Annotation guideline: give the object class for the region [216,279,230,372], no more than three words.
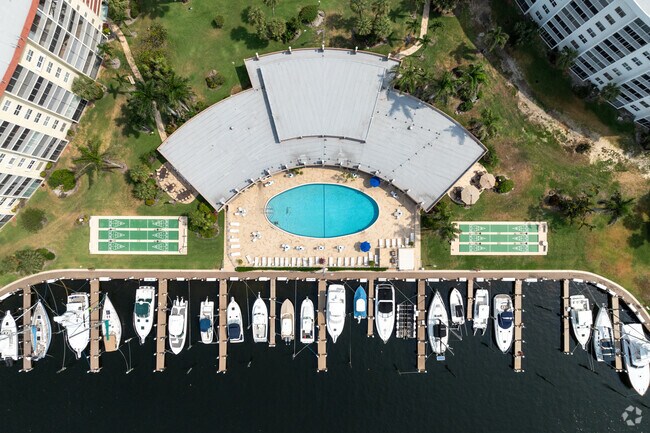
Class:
pier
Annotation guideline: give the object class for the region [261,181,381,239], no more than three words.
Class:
swimming pool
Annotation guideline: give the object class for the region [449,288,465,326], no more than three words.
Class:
boat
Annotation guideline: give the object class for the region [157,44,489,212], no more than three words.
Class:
building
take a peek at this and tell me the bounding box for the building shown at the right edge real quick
[515,0,650,130]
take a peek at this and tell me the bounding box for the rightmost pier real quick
[608,295,627,371]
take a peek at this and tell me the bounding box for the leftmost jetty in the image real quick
[17,284,37,371]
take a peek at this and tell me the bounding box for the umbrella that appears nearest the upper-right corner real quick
[480,174,495,189]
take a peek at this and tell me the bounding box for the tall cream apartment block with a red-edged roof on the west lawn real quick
[0,0,114,231]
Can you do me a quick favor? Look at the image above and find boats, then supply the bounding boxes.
[199,298,216,343]
[251,293,269,343]
[167,297,190,355]
[425,290,458,359]
[279,299,295,344]
[354,286,367,321]
[0,312,22,363]
[0,303,53,359]
[620,318,650,397]
[133,283,157,345]
[449,288,465,326]
[300,296,316,343]
[326,283,347,343]
[77,294,123,350]
[374,283,396,342]
[569,293,592,350]
[225,297,244,344]
[472,289,490,333]
[591,305,650,361]
[490,291,514,354]
[49,290,90,359]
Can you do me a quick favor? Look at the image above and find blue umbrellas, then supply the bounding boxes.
[370,177,381,187]
[360,241,371,252]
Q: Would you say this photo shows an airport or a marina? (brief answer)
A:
marina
